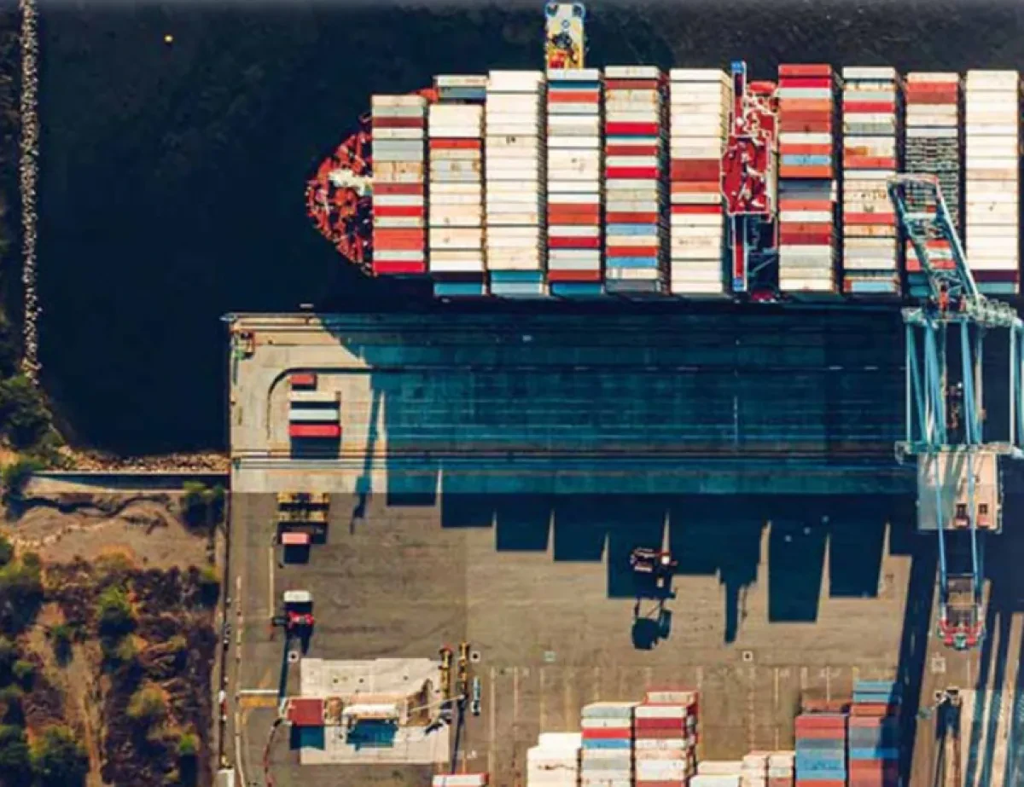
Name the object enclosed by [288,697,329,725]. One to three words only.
shed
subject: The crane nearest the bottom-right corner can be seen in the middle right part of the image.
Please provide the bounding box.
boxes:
[888,167,1024,651]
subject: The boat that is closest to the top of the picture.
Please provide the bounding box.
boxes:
[545,1,587,74]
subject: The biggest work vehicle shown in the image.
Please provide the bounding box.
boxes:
[633,548,679,572]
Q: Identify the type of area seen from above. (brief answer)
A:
port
